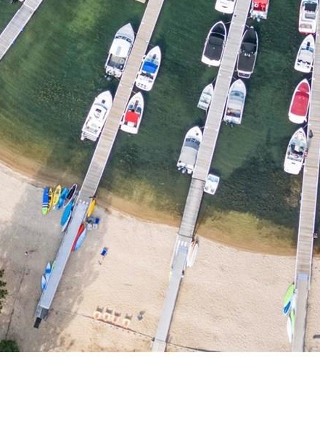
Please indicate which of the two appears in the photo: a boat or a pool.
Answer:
boat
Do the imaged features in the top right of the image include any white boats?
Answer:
Yes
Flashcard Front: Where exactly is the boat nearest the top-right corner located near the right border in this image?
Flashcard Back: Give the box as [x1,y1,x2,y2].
[298,0,318,35]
